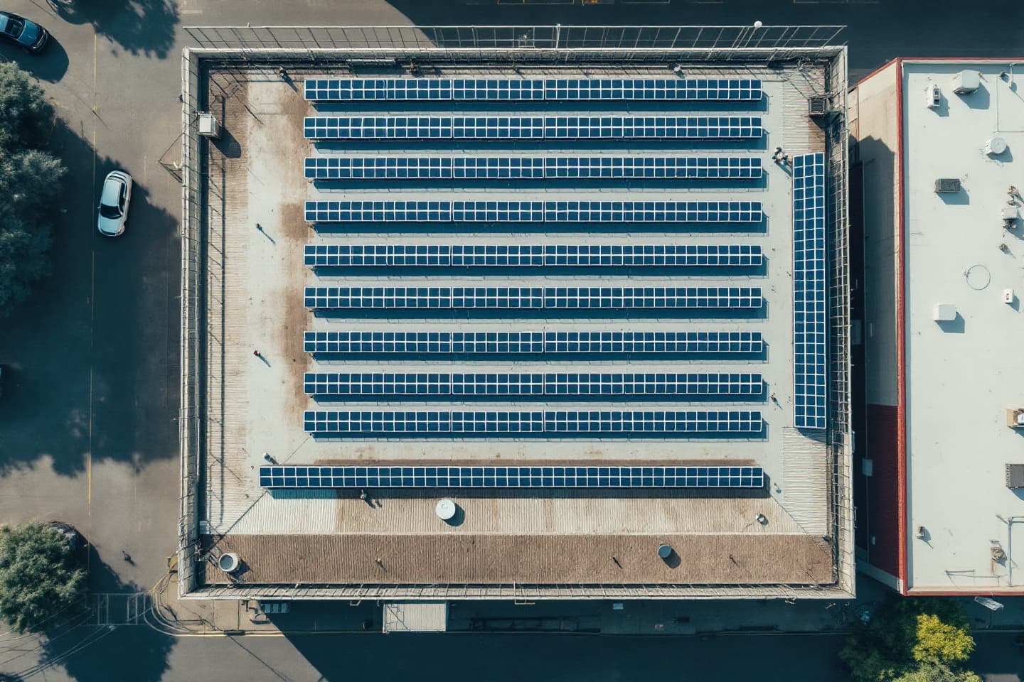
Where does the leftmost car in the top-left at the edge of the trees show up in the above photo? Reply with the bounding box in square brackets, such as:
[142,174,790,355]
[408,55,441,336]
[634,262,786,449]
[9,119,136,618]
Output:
[0,5,52,54]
